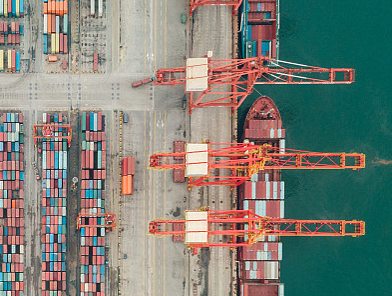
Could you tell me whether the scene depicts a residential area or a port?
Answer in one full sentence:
This image shows a port.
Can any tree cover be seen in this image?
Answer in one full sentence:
No, no tree cover is visible.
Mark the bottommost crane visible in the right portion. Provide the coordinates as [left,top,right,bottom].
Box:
[147,206,366,250]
